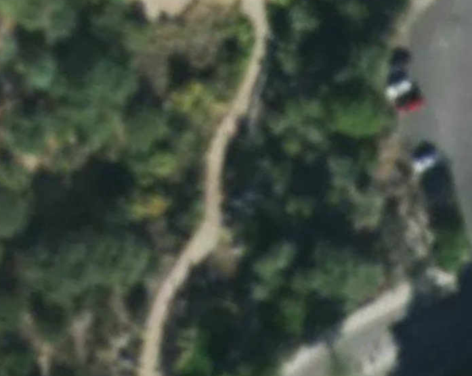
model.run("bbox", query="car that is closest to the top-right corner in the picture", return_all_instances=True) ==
[388,48,416,70]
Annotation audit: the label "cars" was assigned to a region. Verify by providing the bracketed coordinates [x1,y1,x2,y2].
[395,94,425,116]
[385,77,414,101]
[388,48,416,70]
[411,151,439,173]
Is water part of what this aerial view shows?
No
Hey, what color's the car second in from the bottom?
red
